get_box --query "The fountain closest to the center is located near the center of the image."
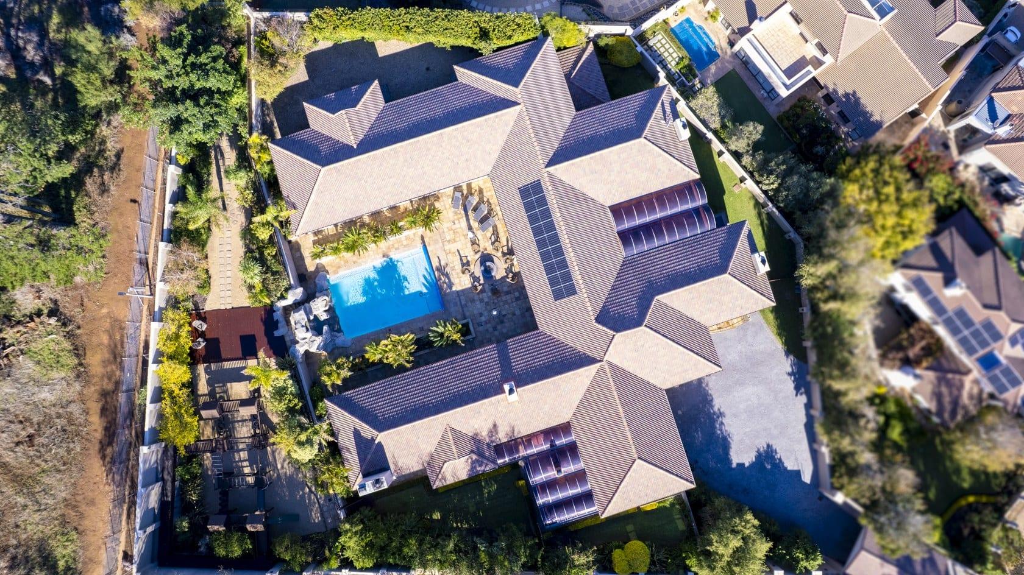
[474,255,502,283]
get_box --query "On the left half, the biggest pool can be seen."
[328,242,448,340]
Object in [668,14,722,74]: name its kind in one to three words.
swimming pool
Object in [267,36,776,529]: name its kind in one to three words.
house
